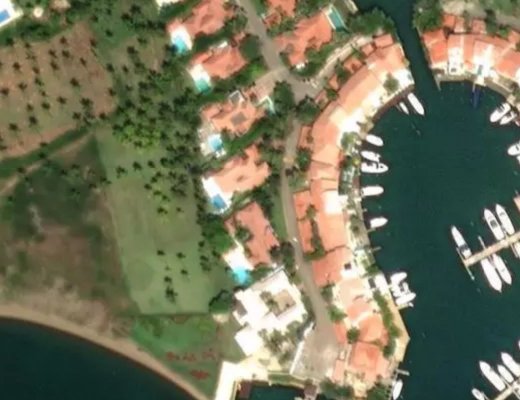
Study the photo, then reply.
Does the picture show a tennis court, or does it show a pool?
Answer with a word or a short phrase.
pool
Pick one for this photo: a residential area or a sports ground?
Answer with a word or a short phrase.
residential area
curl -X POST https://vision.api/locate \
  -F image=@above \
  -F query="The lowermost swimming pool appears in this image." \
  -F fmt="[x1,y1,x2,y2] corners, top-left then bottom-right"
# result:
[225,245,254,285]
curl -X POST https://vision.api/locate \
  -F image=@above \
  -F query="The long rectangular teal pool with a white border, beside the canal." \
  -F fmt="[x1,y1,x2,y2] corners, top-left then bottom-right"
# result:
[325,8,345,31]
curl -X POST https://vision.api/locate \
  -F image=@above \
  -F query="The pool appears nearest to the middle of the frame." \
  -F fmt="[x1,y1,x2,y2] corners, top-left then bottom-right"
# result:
[201,179,232,214]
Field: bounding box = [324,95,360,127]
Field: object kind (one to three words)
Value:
house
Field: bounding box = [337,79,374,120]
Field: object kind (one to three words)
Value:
house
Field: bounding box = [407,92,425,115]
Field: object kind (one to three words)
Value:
boat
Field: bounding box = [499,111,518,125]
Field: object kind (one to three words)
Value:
boat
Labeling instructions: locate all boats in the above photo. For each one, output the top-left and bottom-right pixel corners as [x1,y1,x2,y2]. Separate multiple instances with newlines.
[507,143,520,154]
[368,217,389,227]
[393,283,401,298]
[451,224,474,259]
[489,98,513,122]
[478,358,507,392]
[499,111,518,125]
[392,292,417,307]
[360,162,389,173]
[500,350,520,381]
[361,186,384,195]
[388,273,408,287]
[393,379,405,400]
[507,240,520,265]
[398,101,409,115]
[476,254,501,293]
[472,88,479,106]
[359,148,381,161]
[489,251,511,286]
[407,92,425,115]
[363,133,384,146]
[471,388,485,400]
[483,206,507,244]
[498,364,515,384]
[496,202,516,237]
